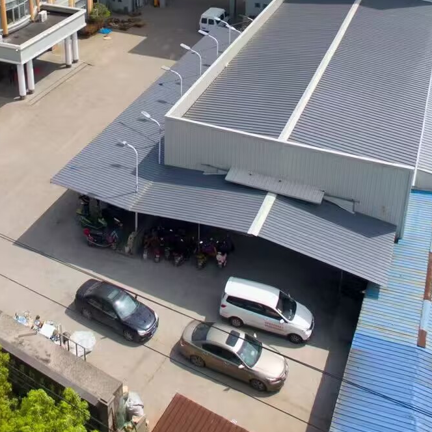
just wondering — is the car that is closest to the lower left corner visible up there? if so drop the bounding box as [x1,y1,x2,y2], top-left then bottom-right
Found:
[73,283,160,344]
